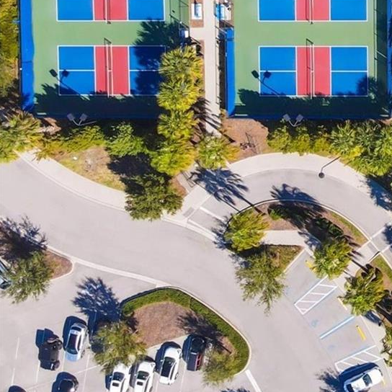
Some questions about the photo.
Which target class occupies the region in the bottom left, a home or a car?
car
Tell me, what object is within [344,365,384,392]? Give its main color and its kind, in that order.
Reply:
white car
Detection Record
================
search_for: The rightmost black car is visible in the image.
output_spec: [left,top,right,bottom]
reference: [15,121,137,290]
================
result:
[182,331,207,372]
